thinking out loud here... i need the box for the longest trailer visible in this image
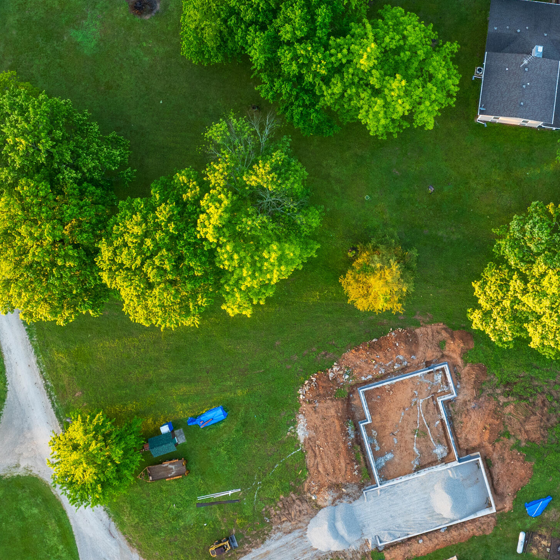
[135,458,190,483]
